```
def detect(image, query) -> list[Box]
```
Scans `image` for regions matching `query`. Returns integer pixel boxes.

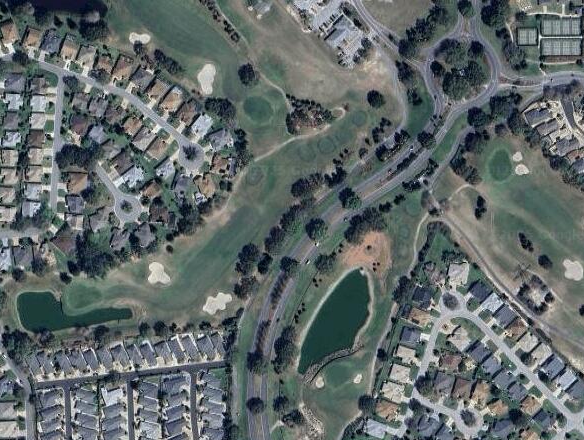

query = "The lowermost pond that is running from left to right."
[17,291,132,332]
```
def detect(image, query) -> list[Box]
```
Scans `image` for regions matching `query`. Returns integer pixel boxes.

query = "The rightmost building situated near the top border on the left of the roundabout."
[324,15,355,47]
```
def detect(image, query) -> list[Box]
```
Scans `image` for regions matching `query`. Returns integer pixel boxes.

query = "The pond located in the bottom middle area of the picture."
[298,268,369,374]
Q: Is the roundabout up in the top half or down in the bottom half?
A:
top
